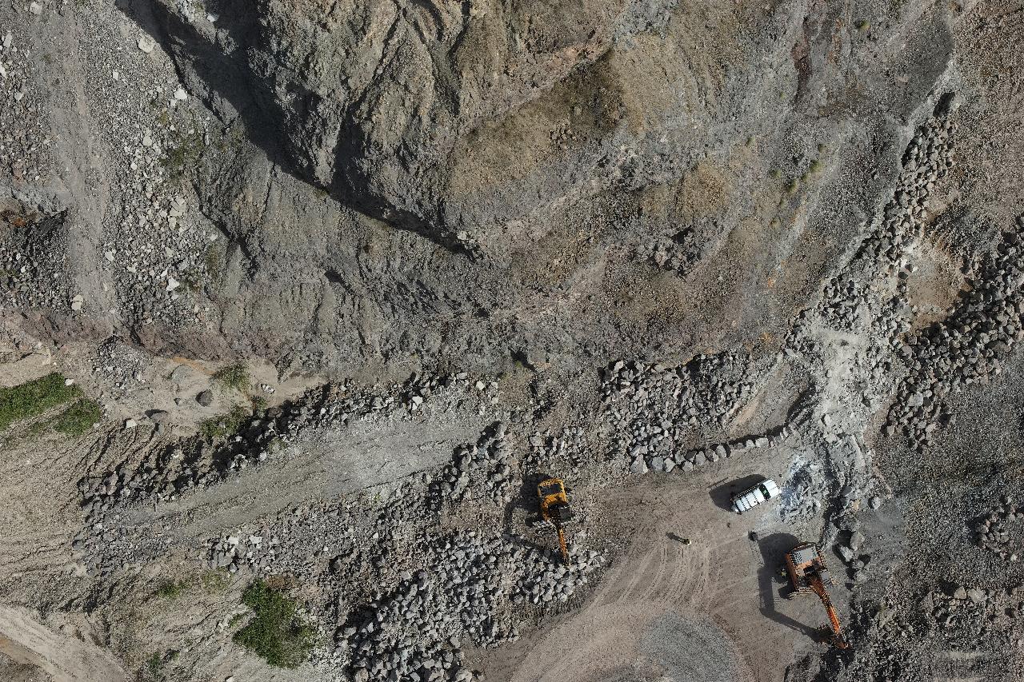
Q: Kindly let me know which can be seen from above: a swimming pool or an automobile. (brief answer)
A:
automobile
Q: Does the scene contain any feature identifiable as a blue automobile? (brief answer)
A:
No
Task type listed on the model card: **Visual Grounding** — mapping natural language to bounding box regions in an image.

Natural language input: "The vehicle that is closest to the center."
[528,474,577,561]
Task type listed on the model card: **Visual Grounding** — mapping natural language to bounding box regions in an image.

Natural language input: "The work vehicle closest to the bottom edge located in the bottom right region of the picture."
[771,538,839,642]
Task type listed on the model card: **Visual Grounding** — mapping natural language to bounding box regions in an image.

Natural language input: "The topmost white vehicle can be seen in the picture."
[726,475,781,514]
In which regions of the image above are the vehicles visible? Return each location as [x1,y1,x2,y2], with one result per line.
[528,474,577,561]
[726,475,781,514]
[771,538,839,642]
